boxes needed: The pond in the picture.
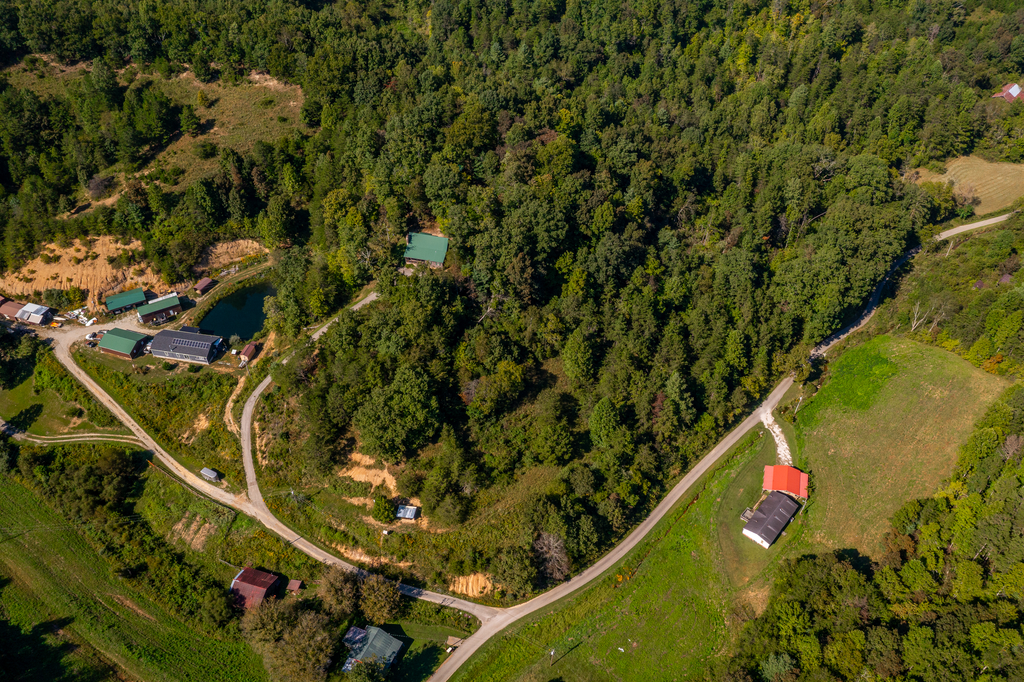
[199,285,286,341]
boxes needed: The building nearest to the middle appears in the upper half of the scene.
[404,232,452,272]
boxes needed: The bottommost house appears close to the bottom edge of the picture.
[342,623,403,678]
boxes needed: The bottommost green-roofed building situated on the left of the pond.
[98,328,148,361]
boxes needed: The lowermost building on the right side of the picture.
[742,491,798,551]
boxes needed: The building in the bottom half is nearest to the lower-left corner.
[229,567,279,607]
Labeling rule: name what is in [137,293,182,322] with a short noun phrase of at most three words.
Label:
barn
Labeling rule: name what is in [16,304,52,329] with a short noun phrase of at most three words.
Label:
shed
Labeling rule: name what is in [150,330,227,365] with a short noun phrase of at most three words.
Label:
house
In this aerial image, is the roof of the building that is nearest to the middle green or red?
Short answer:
green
